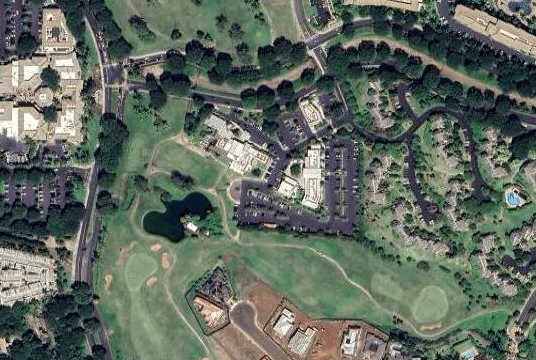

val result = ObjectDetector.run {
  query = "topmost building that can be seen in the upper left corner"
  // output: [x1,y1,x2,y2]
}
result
[42,9,78,54]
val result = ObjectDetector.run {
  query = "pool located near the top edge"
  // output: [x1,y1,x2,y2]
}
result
[507,0,531,15]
